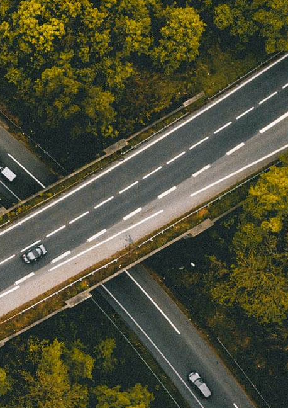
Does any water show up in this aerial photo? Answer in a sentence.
No, water can't be seen anywhere here.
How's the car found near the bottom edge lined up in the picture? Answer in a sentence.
In this picture, the car found near the bottom edge lies diagonally.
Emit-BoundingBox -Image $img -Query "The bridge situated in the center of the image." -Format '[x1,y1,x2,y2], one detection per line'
[0,91,249,348]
